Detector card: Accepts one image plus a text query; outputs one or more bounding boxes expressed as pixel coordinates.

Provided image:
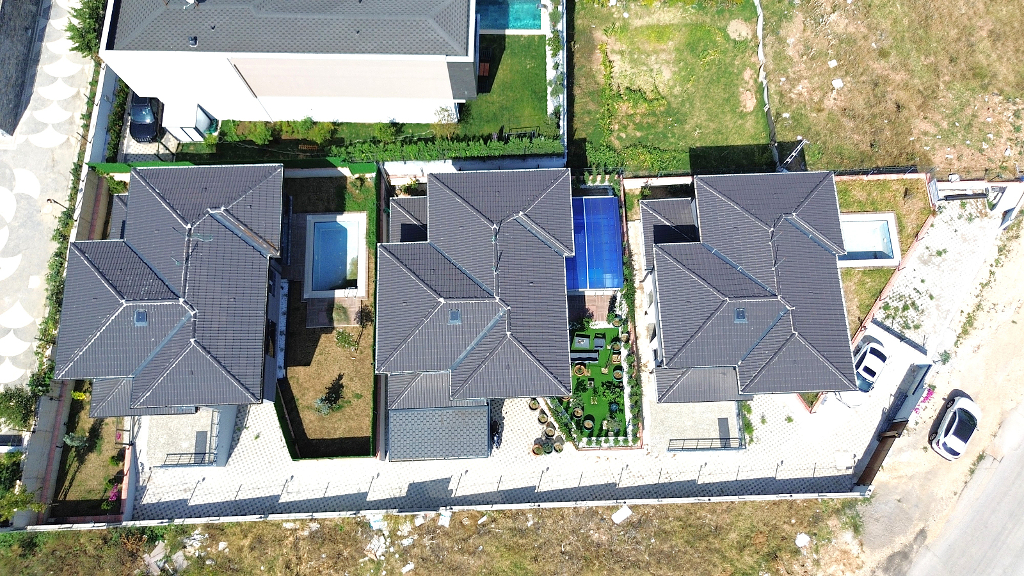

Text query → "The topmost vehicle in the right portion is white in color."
[841,341,886,410]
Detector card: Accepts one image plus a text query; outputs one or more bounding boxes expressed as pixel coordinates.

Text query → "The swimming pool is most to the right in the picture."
[838,214,903,265]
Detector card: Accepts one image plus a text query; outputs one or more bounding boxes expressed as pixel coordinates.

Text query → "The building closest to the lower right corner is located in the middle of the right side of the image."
[638,169,858,409]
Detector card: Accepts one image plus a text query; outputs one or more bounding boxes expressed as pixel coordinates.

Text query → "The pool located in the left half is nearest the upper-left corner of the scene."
[306,213,366,297]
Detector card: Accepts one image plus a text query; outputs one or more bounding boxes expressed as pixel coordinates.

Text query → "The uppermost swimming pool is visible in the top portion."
[485,0,548,34]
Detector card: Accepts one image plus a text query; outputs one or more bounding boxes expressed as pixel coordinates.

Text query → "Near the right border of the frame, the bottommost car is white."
[930,395,982,465]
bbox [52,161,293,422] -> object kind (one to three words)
house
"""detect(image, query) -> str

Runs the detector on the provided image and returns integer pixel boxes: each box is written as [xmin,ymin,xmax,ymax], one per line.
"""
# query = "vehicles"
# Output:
[841,341,886,410]
[491,422,503,450]
[930,395,982,465]
[121,86,163,146]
